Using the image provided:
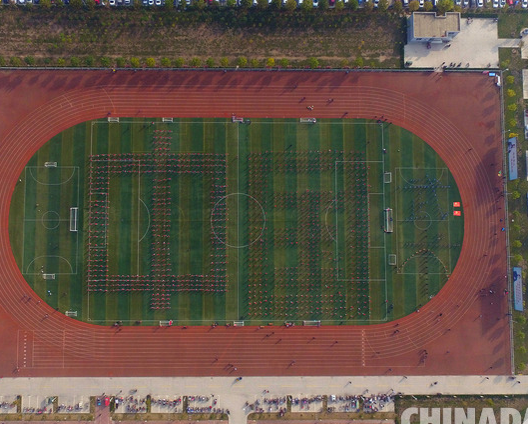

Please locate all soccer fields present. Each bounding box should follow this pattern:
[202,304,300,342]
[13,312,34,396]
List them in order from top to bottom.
[8,117,465,325]
[22,165,83,277]
[393,167,452,278]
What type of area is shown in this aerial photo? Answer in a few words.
sports ground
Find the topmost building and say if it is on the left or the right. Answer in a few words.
right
